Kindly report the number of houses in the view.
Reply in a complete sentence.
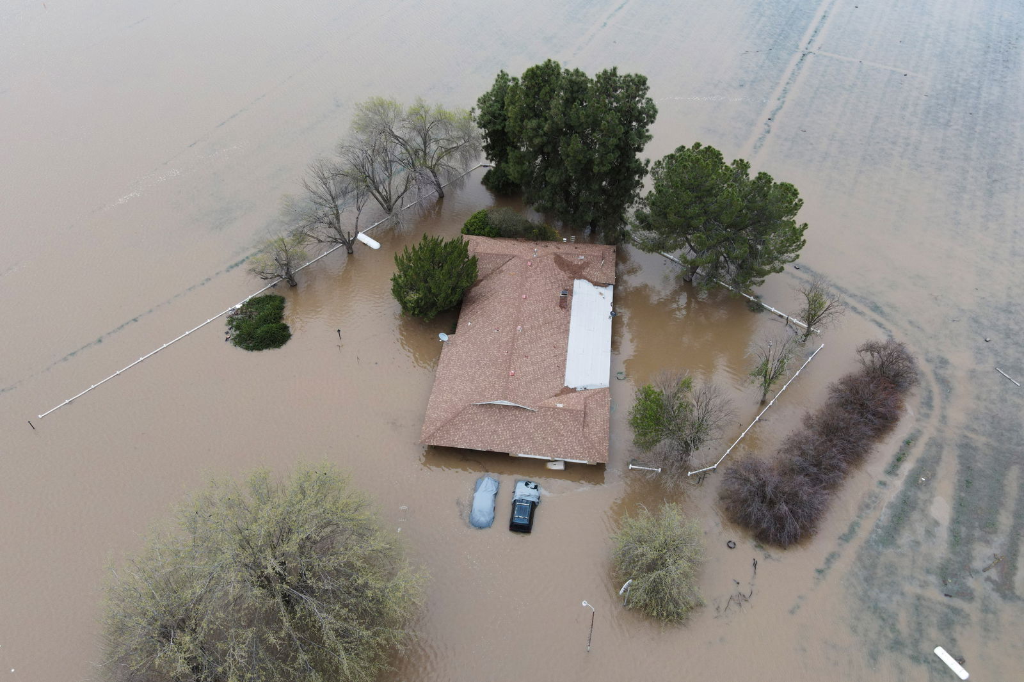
Just 1 house appears in this view.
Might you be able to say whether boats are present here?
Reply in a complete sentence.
No, no boat can be seen from above.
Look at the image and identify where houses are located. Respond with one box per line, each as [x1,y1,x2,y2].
[420,234,617,467]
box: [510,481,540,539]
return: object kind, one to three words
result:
car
